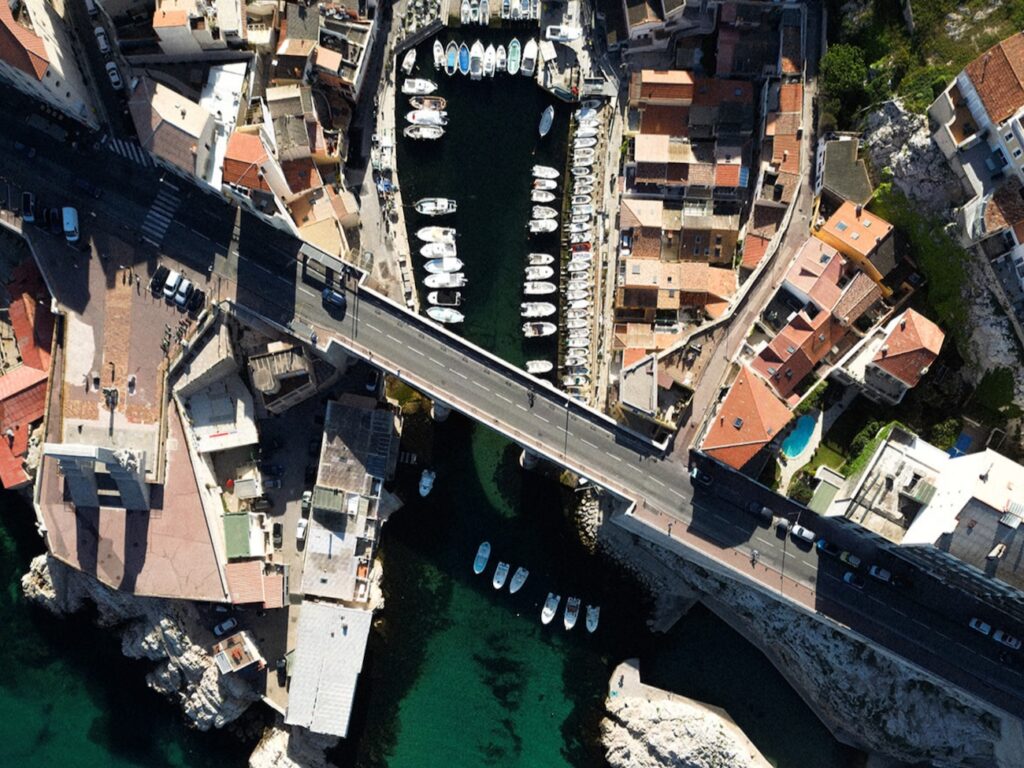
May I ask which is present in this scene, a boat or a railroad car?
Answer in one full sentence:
Of the two, only a boat appears.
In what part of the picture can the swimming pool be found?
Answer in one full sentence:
Look in the right portion of the view to spot the swimming pool.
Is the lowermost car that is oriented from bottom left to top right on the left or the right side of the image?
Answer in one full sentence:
You can find the lowermost car that is oriented from bottom left to top right on the left side of the picture.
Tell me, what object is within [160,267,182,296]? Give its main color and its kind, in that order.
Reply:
white car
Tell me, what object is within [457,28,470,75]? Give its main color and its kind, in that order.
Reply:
blue boat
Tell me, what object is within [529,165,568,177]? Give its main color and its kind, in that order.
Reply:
white boat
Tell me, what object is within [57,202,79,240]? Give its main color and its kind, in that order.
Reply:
blue vehicle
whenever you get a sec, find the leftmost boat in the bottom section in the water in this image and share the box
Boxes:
[419,466,435,496]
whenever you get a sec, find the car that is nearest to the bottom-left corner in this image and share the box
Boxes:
[212,616,237,637]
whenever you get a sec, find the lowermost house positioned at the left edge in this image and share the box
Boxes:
[0,421,36,496]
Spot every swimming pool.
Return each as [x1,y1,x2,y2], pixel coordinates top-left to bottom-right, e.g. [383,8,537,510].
[779,413,819,461]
